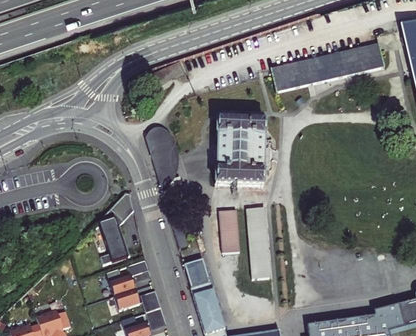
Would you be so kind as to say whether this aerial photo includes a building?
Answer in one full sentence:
Yes, a building can be made out from above.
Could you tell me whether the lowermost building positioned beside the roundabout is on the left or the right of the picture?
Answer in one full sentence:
The lowermost building positioned beside the roundabout is on the left side of the image.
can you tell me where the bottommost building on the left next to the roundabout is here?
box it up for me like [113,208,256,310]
[102,217,128,266]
